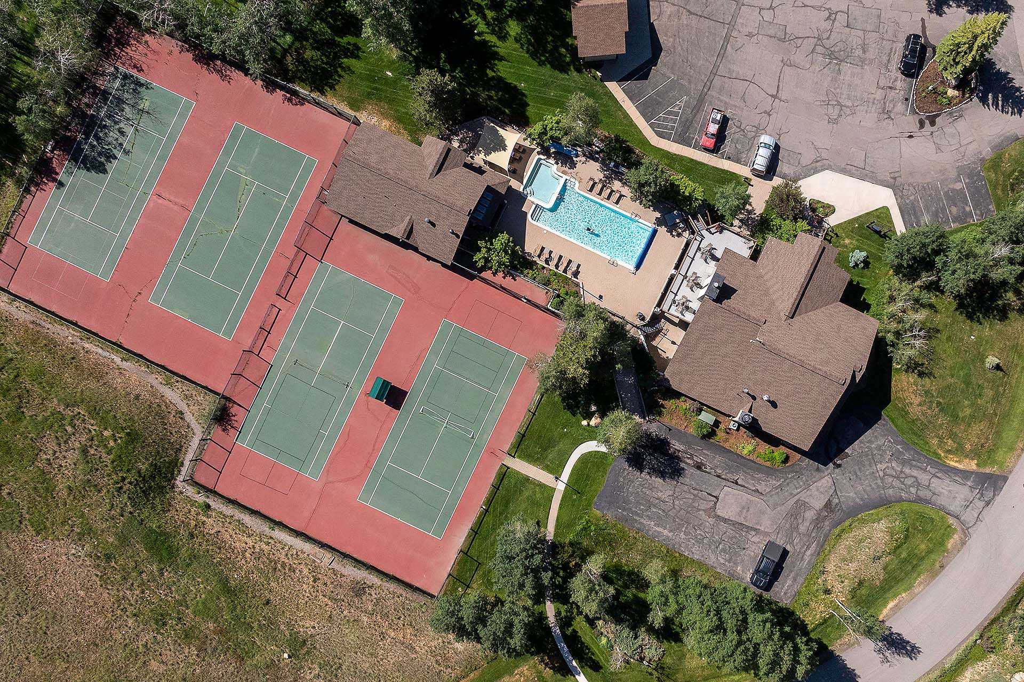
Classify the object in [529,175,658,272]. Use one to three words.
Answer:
swimming pool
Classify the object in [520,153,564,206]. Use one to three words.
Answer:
swimming pool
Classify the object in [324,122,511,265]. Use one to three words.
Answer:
building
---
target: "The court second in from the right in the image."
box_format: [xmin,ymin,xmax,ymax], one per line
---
[234,260,405,495]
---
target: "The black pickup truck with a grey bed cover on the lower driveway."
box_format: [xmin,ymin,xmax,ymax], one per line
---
[754,540,787,594]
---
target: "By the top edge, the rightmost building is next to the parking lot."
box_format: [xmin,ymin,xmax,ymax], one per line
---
[572,0,628,63]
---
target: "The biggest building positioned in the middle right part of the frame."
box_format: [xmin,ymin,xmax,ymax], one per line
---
[664,232,879,451]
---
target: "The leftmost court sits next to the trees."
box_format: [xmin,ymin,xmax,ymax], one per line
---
[27,64,196,300]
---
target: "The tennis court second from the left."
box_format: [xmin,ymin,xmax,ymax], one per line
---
[148,122,318,341]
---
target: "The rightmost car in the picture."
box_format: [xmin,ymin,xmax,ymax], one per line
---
[900,29,927,76]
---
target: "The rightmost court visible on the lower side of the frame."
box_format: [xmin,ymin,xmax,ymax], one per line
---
[357,300,528,541]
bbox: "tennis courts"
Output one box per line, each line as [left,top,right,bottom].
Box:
[27,64,196,300]
[234,260,405,495]
[357,300,528,541]
[148,122,318,341]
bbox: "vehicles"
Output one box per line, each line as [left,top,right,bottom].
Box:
[753,132,778,176]
[900,29,927,76]
[754,540,787,594]
[701,103,729,150]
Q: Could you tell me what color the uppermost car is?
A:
black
